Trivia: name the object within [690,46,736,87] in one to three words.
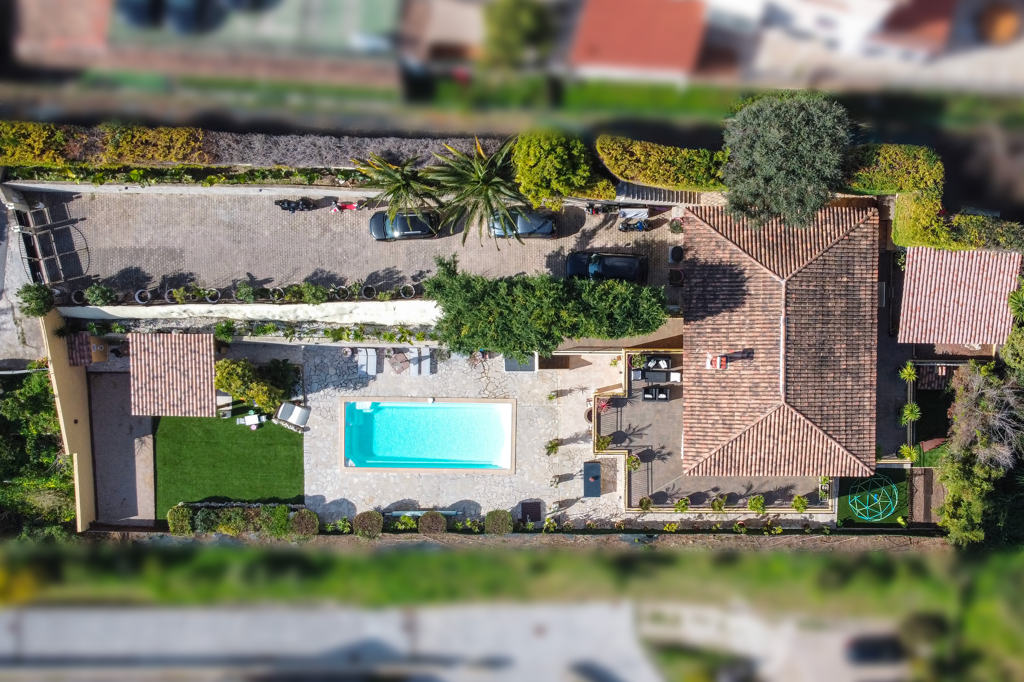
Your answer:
shed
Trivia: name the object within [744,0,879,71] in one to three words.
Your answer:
building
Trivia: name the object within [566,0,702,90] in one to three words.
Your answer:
house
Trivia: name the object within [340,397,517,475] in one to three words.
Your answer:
swimming pool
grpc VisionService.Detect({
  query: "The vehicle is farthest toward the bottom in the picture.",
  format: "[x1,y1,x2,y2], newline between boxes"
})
[828,628,898,666]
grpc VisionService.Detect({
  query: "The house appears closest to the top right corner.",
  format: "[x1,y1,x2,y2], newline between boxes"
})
[854,0,953,79]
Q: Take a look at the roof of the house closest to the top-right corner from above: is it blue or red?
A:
red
